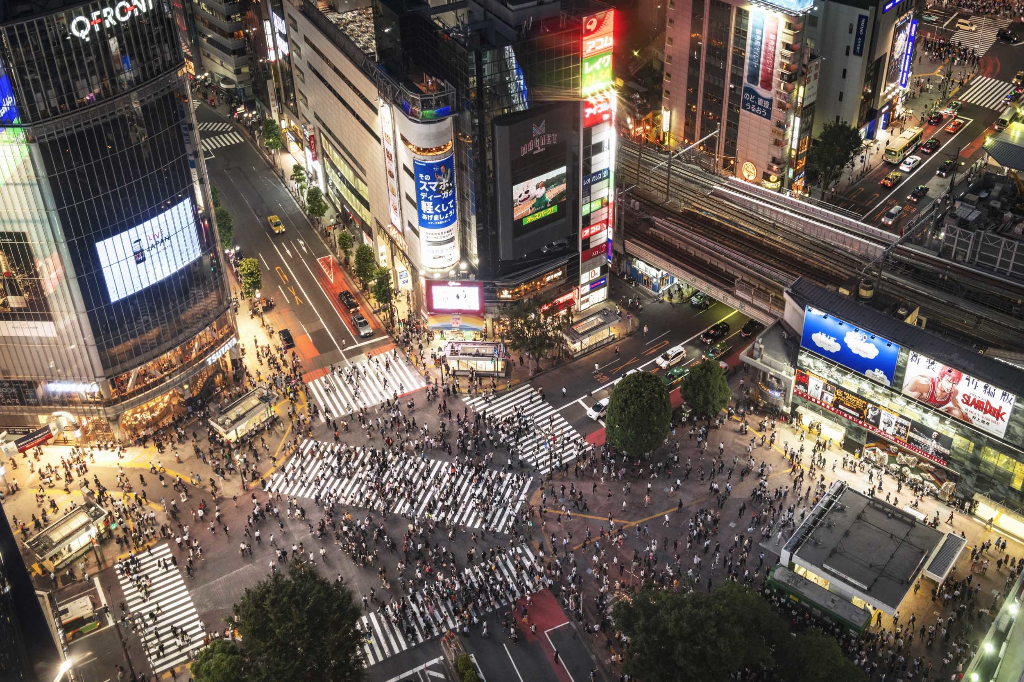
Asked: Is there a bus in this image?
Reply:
Yes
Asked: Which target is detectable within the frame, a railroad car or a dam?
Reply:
railroad car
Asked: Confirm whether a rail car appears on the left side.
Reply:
No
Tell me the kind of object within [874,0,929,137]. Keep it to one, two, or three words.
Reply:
building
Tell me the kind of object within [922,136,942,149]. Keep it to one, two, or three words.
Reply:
vehicle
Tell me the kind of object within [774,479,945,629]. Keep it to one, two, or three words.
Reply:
building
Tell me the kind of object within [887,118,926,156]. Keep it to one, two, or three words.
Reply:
bus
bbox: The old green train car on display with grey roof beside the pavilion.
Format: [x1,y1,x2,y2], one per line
[767,567,872,645]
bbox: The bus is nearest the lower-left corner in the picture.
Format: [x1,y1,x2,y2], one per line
[60,599,101,641]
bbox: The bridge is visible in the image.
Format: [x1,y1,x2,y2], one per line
[608,135,1024,362]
